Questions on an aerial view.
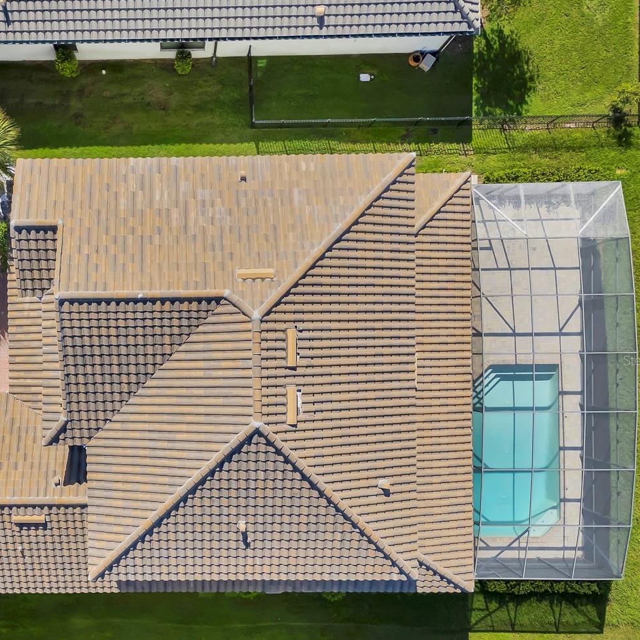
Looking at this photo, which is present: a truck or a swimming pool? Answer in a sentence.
Of the two, only a swimming pool appears.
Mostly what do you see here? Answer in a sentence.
The largest share of the image is taken up by buildings.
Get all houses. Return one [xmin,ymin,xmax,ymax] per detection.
[0,0,485,71]
[0,148,478,597]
